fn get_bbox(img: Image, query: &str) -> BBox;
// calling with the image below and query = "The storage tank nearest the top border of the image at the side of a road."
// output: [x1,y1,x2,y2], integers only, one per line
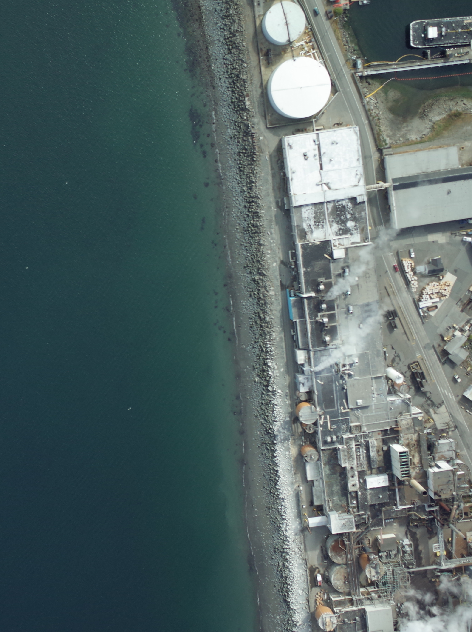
[261,1,306,45]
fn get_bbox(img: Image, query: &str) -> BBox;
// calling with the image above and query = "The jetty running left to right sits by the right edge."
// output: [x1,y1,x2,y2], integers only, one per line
[361,40,472,71]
